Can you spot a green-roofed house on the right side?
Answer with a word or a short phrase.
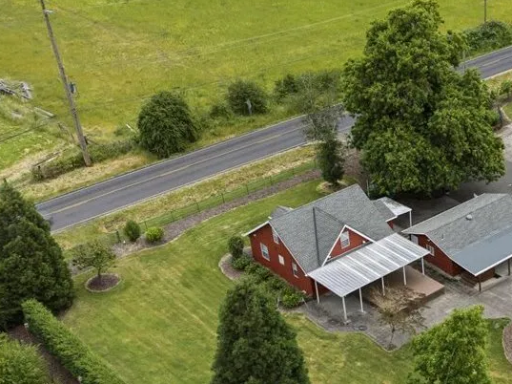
No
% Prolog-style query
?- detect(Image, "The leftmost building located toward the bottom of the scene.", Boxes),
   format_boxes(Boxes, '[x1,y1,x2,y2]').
[241,184,444,321]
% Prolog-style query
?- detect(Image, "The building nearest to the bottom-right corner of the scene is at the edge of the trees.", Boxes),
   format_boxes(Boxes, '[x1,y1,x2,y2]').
[400,191,512,289]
